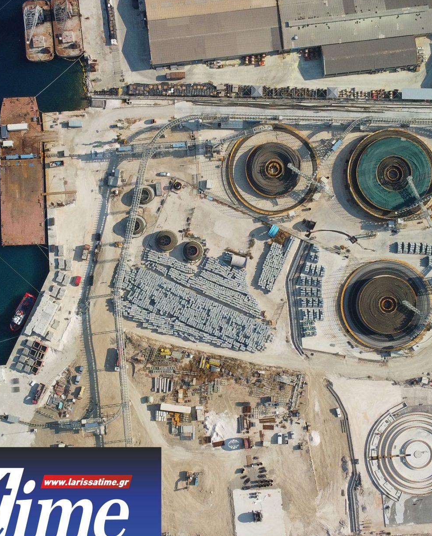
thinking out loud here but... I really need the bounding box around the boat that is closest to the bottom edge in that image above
[11,293,37,329]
